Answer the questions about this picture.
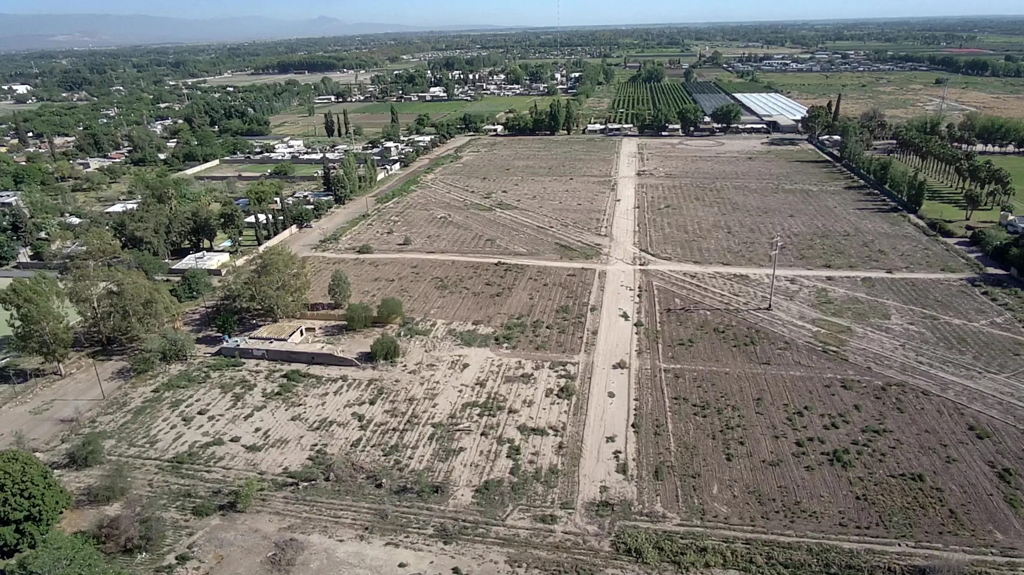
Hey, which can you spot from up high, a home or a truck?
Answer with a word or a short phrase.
home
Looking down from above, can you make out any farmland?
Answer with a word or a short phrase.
Yes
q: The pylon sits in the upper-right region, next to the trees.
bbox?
[937,77,952,114]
